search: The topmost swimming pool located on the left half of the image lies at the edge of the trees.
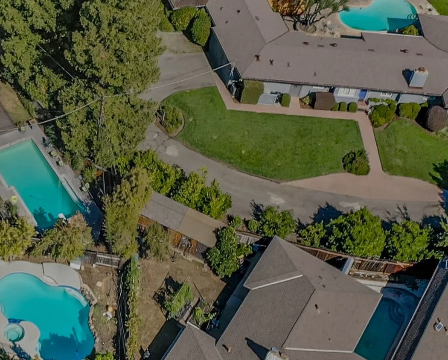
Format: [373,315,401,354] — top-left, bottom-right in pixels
[0,138,83,235]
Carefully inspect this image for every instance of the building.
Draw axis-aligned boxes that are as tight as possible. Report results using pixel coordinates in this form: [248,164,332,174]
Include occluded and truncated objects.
[164,236,383,360]
[141,194,226,262]
[200,0,448,124]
